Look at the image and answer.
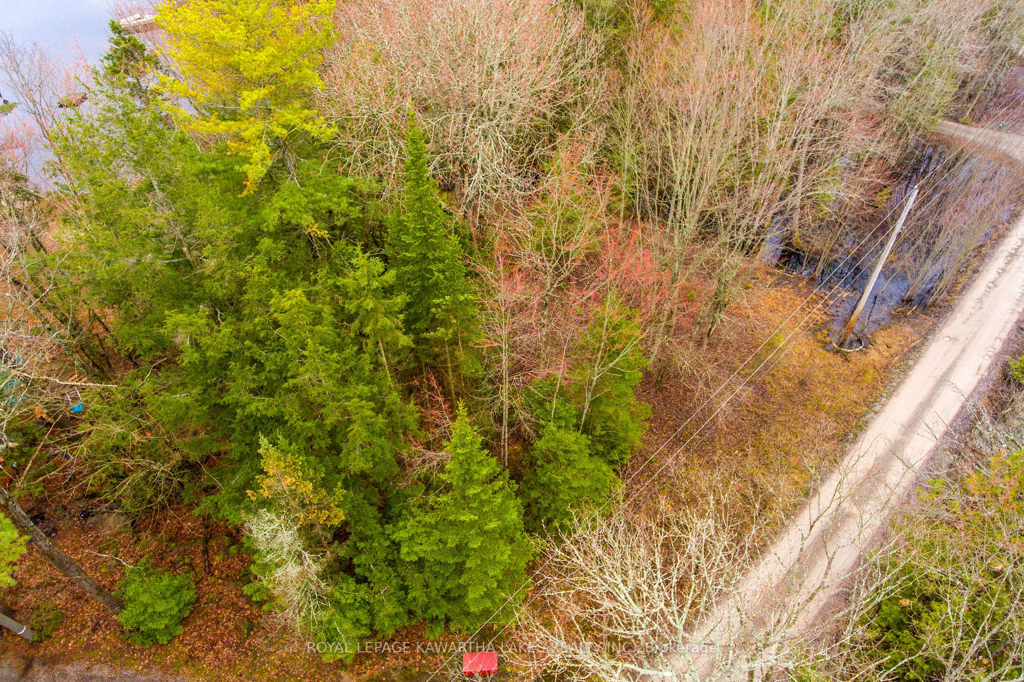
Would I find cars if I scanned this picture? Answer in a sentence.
No, there isn't any car down there.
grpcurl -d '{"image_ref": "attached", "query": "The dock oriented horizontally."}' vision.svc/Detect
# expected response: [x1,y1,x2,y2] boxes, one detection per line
[110,5,183,33]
